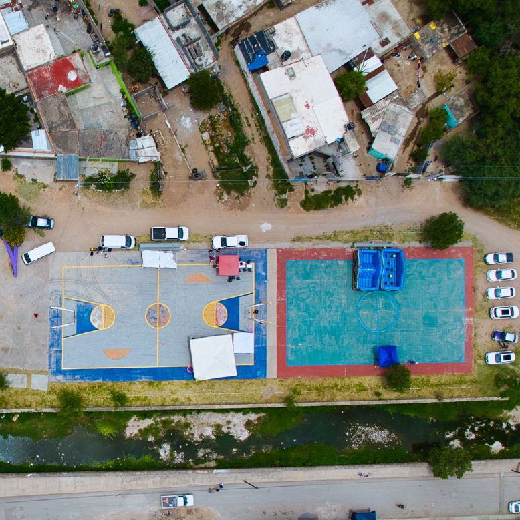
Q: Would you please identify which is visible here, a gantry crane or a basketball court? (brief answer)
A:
basketball court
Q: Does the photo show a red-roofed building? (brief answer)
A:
Yes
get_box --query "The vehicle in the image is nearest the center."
[211,233,249,249]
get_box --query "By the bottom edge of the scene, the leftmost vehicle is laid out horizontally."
[160,493,194,509]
